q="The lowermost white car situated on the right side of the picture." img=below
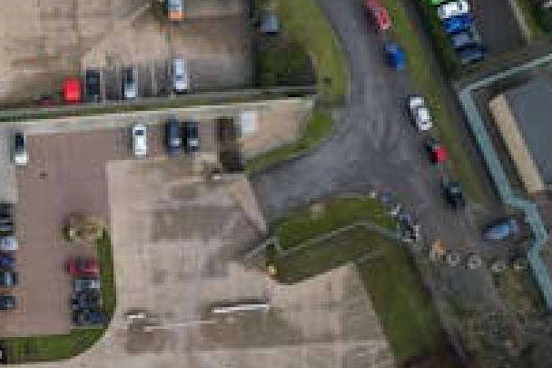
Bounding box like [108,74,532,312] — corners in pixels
[406,97,432,131]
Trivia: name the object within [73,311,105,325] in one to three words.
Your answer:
car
